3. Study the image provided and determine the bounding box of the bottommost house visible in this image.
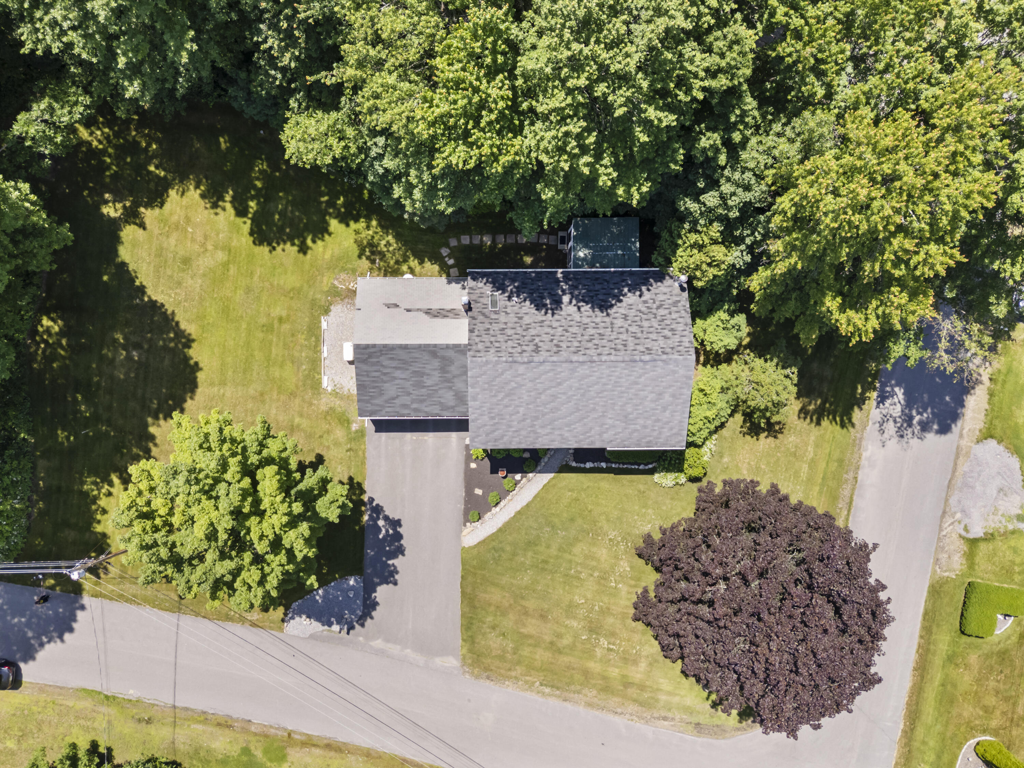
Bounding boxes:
[353,266,695,451]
